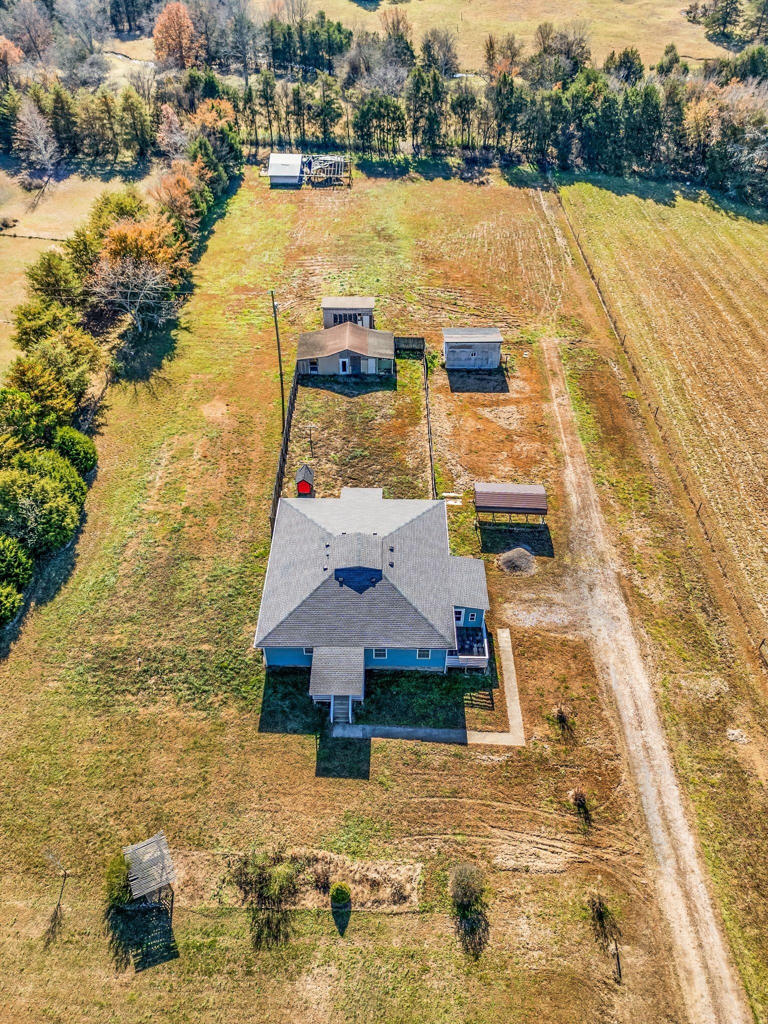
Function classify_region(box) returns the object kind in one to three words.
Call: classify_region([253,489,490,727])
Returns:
house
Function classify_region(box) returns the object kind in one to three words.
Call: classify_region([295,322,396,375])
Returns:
barn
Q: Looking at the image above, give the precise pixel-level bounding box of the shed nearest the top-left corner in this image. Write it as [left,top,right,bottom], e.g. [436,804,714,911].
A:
[267,156,304,186]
